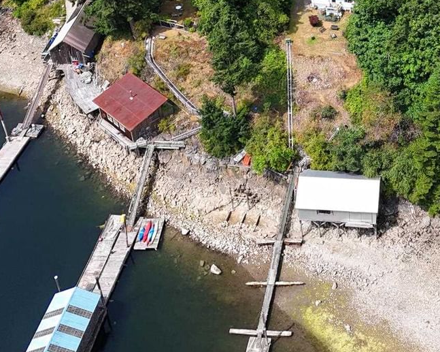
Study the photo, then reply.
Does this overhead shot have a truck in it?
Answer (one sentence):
No, there appears to be no truck in this shot.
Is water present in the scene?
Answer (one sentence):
Yes, water can be seen from above here.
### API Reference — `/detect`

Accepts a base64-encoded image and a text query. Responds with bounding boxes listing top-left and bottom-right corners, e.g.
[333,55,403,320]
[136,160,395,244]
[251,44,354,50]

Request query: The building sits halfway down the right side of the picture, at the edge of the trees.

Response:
[294,175,382,233]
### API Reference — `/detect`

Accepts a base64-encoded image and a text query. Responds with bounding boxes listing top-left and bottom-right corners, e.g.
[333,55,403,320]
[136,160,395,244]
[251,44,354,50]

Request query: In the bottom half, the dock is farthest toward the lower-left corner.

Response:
[79,215,137,291]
